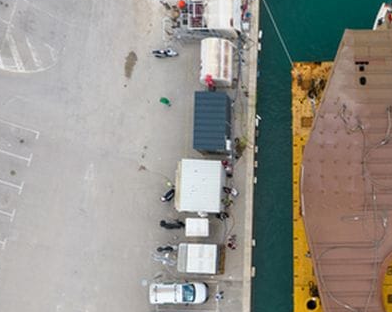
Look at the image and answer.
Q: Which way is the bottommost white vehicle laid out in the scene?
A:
from left to right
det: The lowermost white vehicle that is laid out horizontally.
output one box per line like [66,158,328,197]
[150,280,206,306]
